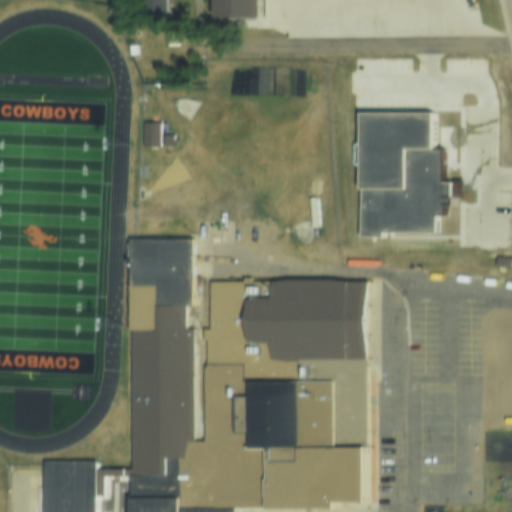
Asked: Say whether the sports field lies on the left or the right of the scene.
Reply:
left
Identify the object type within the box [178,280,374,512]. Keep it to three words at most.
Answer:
building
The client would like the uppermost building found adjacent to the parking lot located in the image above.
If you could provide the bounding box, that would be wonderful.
[354,112,462,236]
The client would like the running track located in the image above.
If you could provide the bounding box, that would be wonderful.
[0,9,132,453]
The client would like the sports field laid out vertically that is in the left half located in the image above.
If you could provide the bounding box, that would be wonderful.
[0,25,116,436]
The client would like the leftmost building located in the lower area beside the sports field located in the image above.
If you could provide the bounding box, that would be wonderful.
[40,460,102,512]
